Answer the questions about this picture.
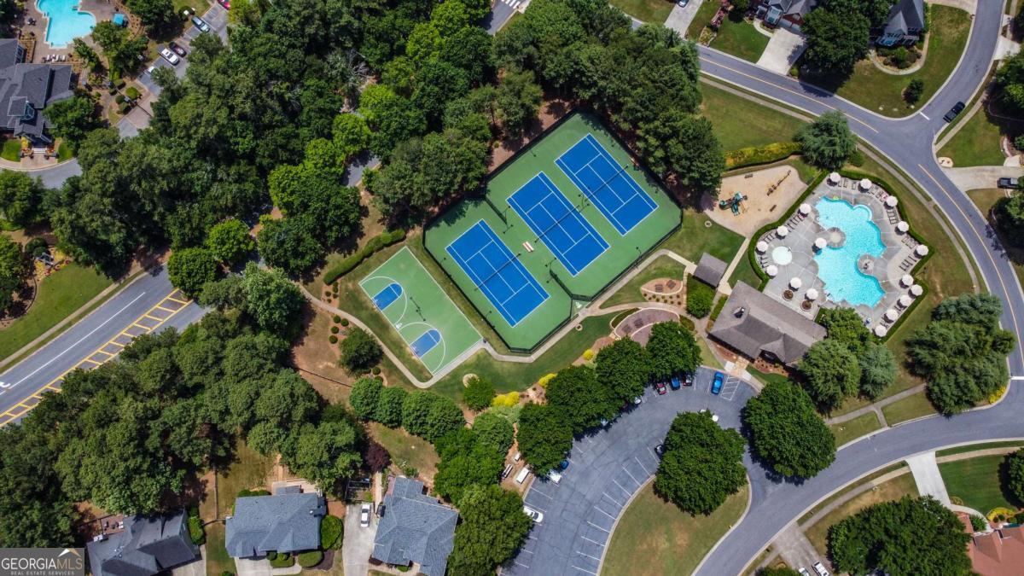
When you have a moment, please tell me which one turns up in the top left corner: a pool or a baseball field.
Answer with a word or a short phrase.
pool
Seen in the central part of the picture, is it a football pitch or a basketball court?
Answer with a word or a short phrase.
basketball court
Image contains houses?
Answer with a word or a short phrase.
Yes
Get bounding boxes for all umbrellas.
[885,309,898,321]
[756,240,768,253]
[765,265,778,277]
[915,244,928,256]
[798,203,811,215]
[896,221,909,233]
[873,325,887,337]
[805,288,819,300]
[829,172,841,183]
[909,284,923,297]
[814,237,827,249]
[900,274,914,286]
[789,278,802,289]
[885,195,898,207]
[898,295,911,307]
[859,178,872,190]
[776,225,788,237]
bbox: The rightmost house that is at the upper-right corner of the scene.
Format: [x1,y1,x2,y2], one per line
[875,0,928,48]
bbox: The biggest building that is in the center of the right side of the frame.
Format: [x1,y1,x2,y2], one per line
[708,280,824,376]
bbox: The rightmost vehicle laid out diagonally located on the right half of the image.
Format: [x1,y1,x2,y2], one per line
[944,99,965,122]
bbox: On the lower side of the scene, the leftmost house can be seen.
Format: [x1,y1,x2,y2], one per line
[88,509,199,576]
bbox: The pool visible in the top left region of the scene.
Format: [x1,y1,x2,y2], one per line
[35,0,97,50]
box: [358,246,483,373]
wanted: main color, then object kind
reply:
green basketball court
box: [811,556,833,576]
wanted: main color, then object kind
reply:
white vehicle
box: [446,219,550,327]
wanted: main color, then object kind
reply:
blue tennis court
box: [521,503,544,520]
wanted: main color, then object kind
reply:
white car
